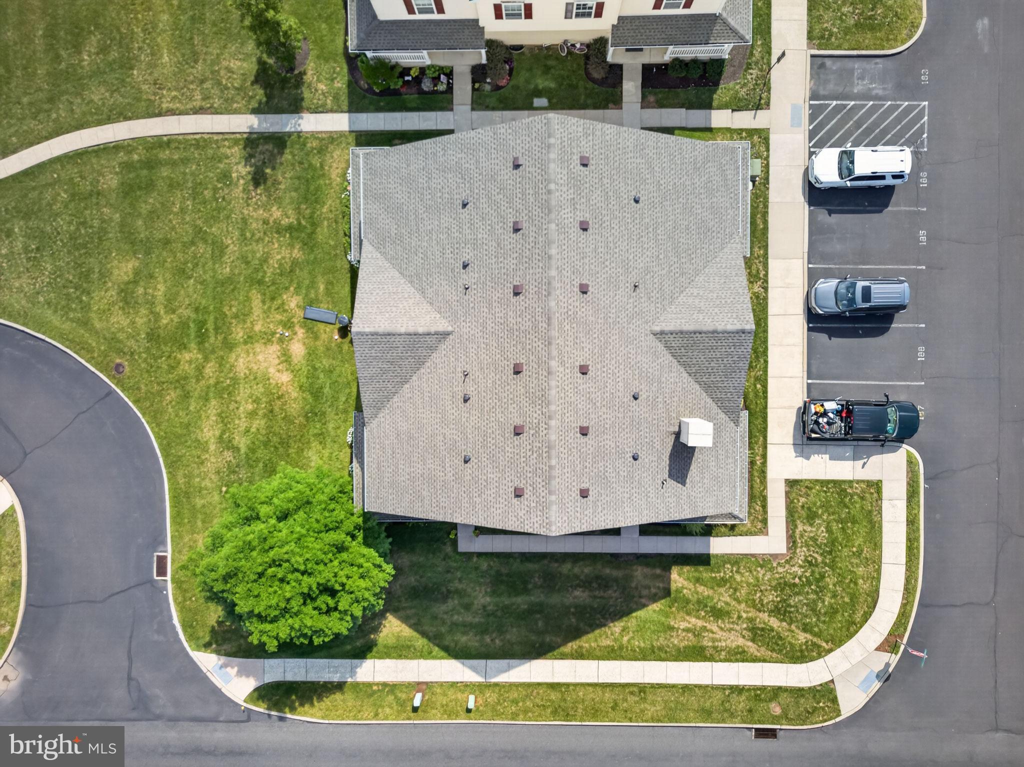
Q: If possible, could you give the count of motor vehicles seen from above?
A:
3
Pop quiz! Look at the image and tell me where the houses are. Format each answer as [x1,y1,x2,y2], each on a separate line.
[349,115,756,539]
[349,0,752,68]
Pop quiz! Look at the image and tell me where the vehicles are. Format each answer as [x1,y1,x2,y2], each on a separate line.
[805,273,916,320]
[797,394,919,448]
[805,141,917,191]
